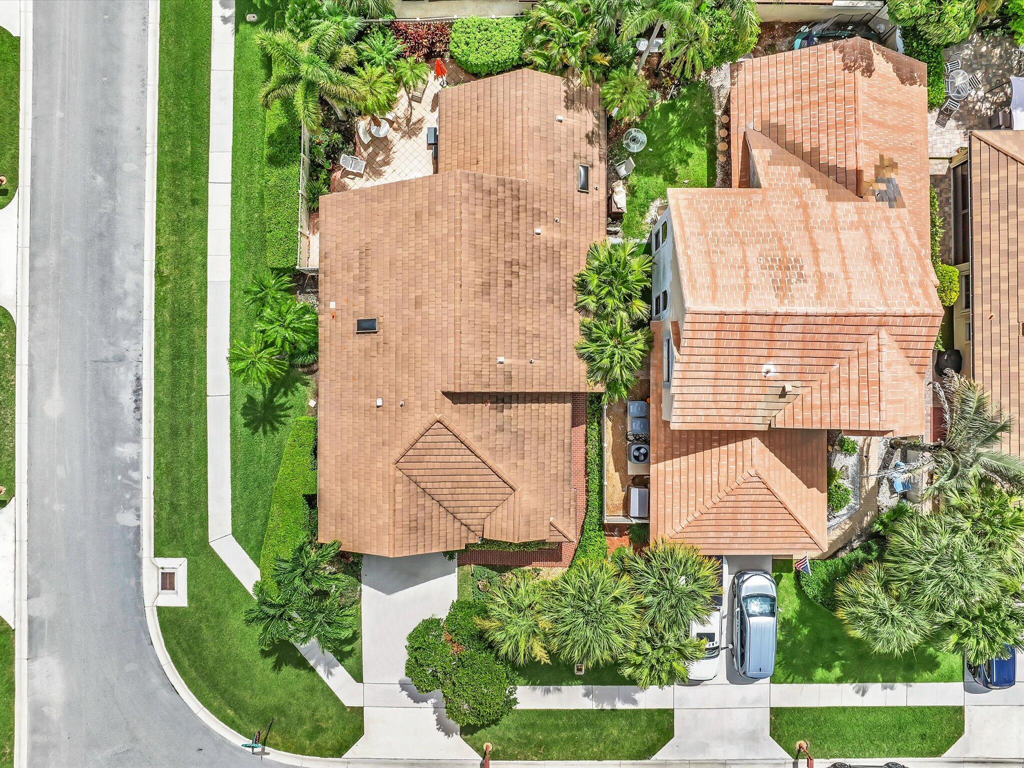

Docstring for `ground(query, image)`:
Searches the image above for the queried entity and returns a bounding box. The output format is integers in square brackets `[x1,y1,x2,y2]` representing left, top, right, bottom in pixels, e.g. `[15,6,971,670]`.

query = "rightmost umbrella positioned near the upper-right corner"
[982,79,1024,129]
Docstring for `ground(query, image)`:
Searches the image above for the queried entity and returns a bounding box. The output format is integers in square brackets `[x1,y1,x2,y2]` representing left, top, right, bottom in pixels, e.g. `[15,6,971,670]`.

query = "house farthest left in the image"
[316,69,608,556]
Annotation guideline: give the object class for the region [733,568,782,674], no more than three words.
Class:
car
